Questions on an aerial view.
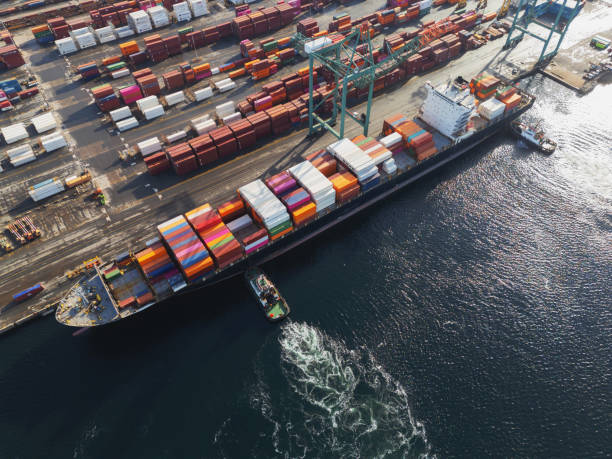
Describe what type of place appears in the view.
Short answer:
port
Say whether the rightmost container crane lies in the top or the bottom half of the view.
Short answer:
top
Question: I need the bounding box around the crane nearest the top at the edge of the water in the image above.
[503,0,583,66]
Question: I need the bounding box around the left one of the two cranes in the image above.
[301,13,472,142]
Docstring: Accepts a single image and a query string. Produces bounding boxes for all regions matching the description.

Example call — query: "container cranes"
[301,13,472,142]
[503,0,583,66]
